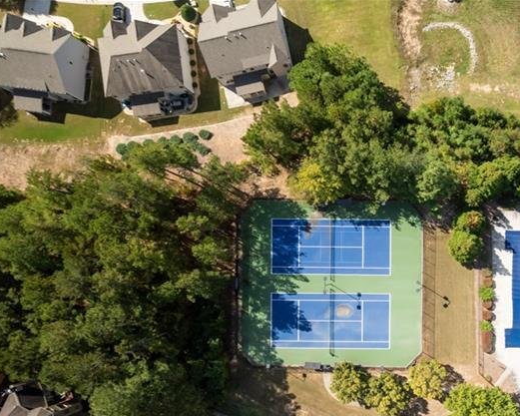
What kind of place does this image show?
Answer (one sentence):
What you see here is a residential area.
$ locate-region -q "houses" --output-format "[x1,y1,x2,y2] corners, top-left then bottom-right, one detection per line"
[0,0,88,117]
[98,16,194,120]
[0,374,89,416]
[196,0,296,100]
